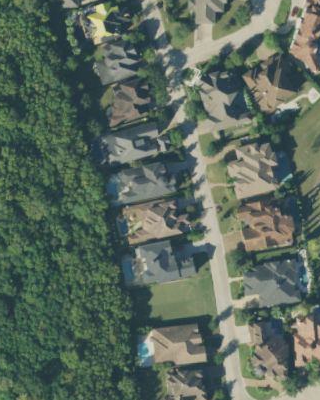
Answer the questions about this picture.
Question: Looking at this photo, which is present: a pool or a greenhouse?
pool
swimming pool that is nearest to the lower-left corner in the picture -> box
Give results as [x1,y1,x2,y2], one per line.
[138,332,154,366]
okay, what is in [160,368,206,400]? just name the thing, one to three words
house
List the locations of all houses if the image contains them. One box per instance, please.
[188,0,228,24]
[237,202,296,251]
[151,324,207,366]
[102,123,173,162]
[243,259,302,308]
[123,200,192,244]
[228,143,278,200]
[290,0,320,71]
[105,80,152,127]
[242,58,301,113]
[138,241,200,286]
[118,162,178,202]
[290,316,320,368]
[160,368,206,400]
[200,70,253,130]
[96,40,138,86]
[87,2,126,45]
[248,322,294,381]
